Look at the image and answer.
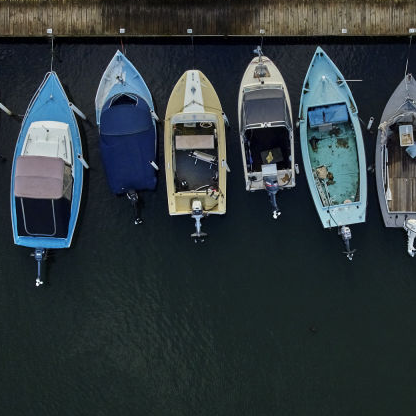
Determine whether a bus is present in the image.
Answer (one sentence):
No, there is no bus in the image.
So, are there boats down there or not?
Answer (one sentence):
Yes, a boat appears in the view.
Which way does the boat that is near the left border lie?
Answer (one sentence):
The boat that is near the left border is laid out vertically.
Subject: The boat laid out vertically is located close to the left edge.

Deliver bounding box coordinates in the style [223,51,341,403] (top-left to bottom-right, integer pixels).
[10,71,84,287]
